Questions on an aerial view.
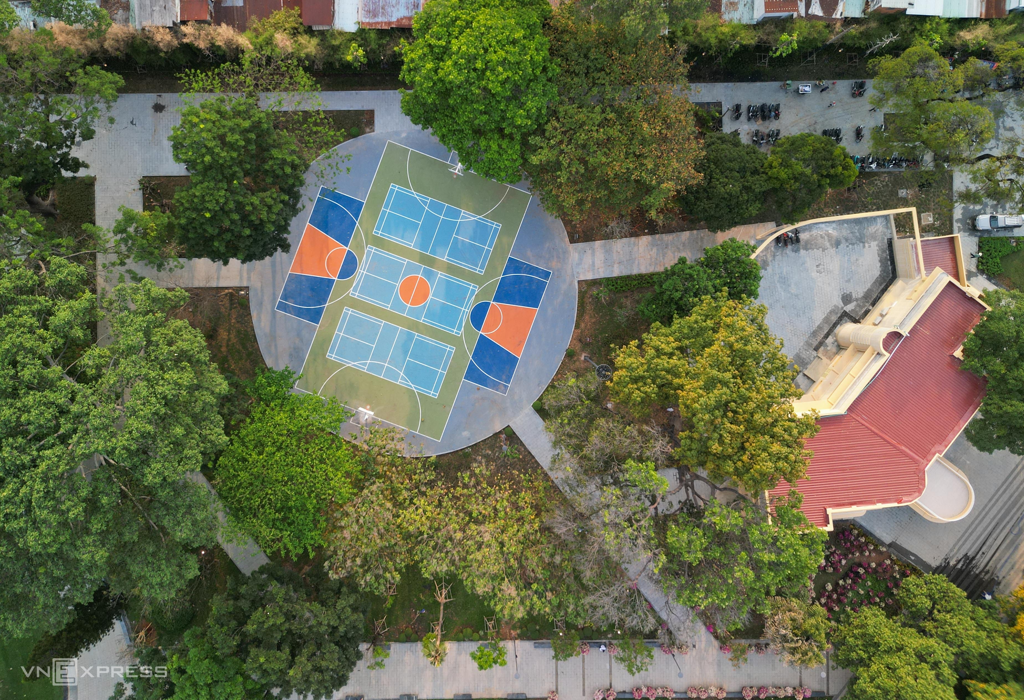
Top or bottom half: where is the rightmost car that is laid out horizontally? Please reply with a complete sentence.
The rightmost car that is laid out horizontally is in the top half of the image.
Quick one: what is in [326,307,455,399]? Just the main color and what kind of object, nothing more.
blue sports court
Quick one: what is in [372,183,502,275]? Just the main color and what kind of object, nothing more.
blue sports court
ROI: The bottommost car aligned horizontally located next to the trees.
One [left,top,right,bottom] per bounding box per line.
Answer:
[970,211,1023,233]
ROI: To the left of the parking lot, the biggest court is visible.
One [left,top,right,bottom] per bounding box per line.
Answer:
[248,127,579,459]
